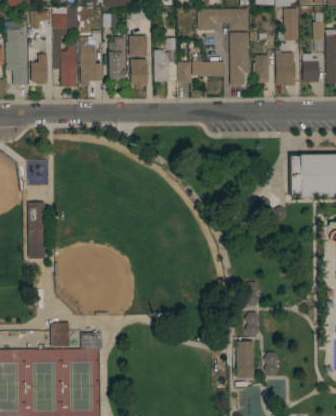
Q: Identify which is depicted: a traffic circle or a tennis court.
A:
tennis court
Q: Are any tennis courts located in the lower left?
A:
Yes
